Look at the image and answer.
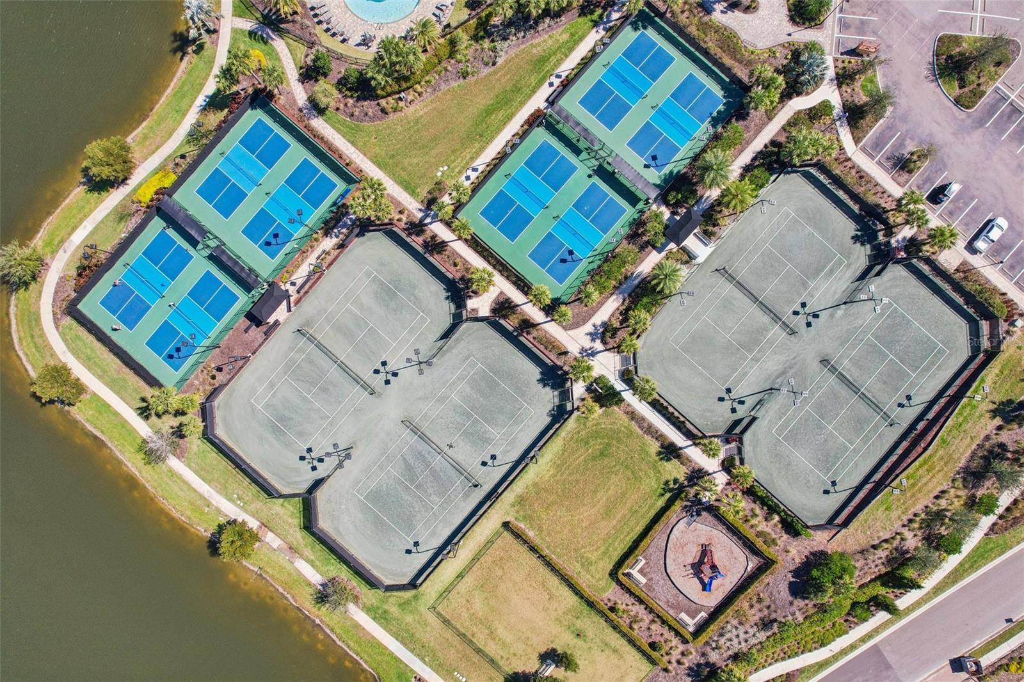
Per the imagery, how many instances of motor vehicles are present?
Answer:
2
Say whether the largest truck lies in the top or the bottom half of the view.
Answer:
top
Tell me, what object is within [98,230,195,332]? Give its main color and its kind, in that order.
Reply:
blue sports court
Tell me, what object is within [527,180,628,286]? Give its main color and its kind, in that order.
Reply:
blue sports court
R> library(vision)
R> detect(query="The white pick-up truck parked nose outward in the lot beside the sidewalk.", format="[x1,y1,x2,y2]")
[971,217,1011,257]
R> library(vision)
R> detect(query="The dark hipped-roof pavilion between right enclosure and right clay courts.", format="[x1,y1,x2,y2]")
[663,208,703,247]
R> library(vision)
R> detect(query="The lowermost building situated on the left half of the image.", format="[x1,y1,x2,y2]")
[251,281,293,322]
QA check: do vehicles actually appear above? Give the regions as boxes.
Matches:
[971,217,1011,257]
[932,184,957,205]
